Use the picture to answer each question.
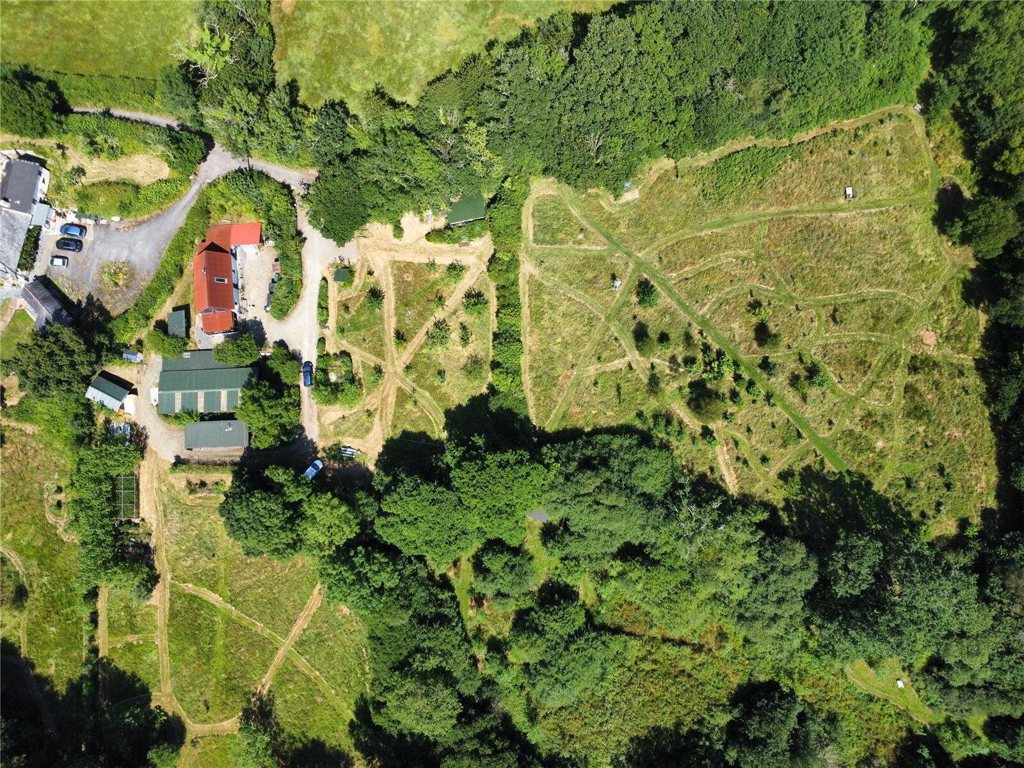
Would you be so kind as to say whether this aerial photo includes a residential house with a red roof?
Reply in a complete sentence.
Yes, a residential house with a red roof can be made out from above.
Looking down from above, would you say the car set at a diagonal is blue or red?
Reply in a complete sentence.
The car set at a diagonal is blue.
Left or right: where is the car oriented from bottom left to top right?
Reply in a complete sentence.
It is on the left.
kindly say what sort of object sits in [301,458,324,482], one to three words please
car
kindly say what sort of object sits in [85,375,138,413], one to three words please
shed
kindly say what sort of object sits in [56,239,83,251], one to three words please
vehicle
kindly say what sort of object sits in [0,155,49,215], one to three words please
house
